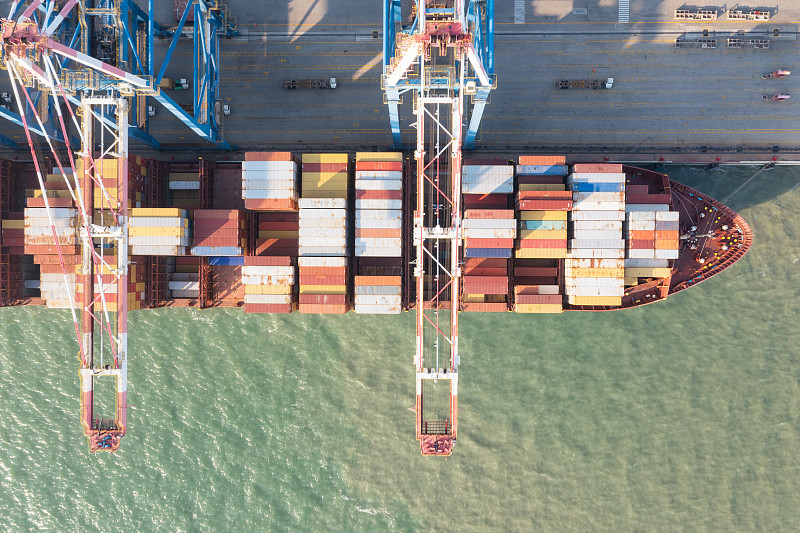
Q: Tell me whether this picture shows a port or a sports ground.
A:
port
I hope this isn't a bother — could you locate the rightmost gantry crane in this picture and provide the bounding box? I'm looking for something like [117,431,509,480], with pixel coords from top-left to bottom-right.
[373,0,497,463]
